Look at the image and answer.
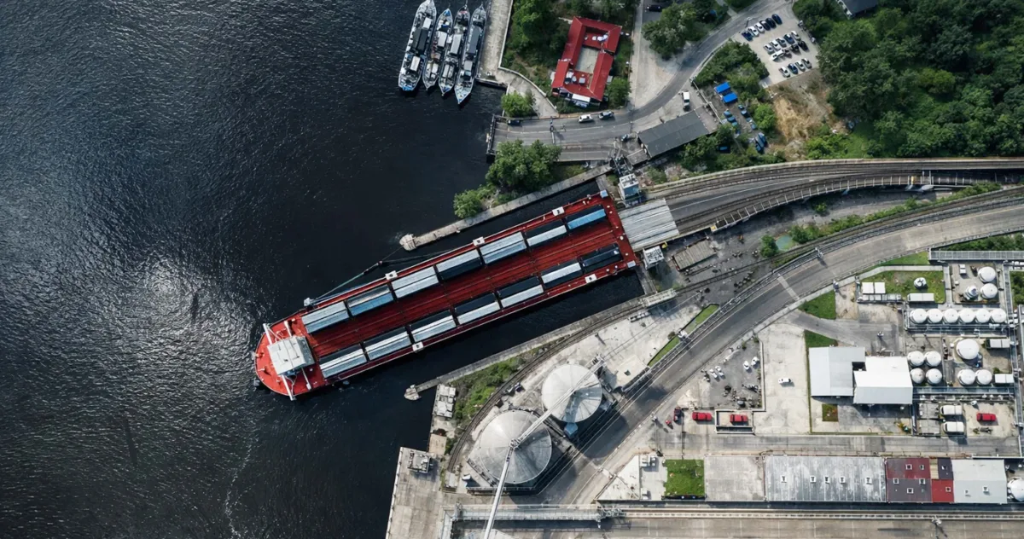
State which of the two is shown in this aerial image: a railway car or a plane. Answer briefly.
railway car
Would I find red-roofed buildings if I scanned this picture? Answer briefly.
Yes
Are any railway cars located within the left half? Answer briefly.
Yes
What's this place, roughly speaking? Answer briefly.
port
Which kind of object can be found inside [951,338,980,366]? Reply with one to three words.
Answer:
storage tank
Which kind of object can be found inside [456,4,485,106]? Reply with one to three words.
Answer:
boat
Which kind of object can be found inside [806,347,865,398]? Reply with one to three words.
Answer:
building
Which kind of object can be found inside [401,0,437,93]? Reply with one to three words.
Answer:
boat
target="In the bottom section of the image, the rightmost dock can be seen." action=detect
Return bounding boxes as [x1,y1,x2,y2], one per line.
[406,294,647,400]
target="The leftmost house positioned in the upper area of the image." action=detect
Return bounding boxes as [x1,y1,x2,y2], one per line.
[550,16,622,107]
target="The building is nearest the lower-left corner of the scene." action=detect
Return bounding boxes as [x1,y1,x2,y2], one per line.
[408,452,433,471]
